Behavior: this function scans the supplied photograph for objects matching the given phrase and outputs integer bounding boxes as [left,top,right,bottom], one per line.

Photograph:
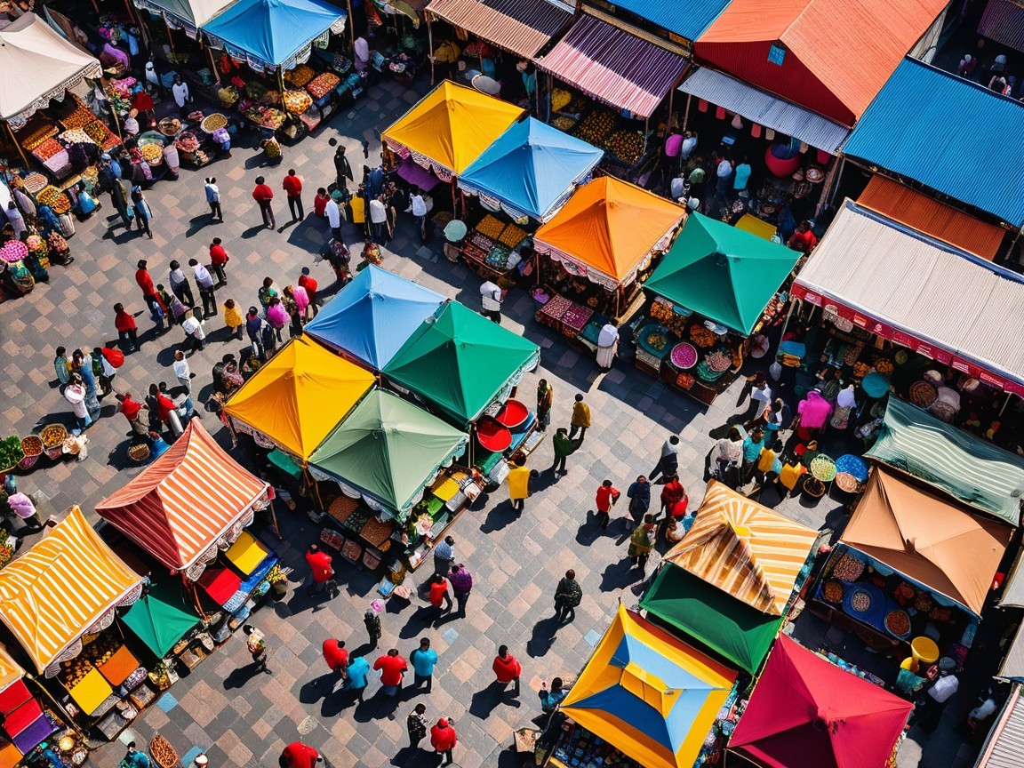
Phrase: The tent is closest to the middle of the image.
[381,300,541,475]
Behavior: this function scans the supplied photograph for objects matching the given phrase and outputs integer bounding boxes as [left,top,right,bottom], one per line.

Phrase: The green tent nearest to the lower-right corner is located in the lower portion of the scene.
[639,564,777,719]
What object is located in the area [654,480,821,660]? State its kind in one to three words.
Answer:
tent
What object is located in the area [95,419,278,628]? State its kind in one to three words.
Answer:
tent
